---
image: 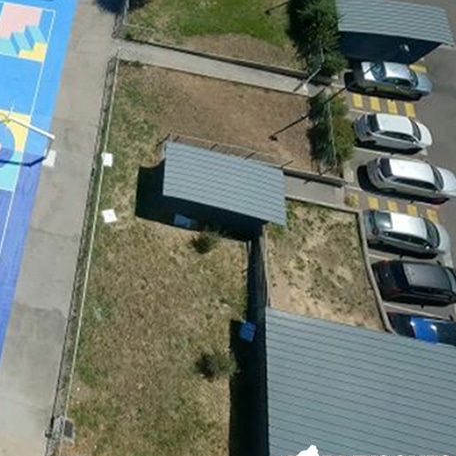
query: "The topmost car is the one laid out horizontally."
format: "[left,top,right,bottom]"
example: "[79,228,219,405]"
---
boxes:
[344,64,432,104]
